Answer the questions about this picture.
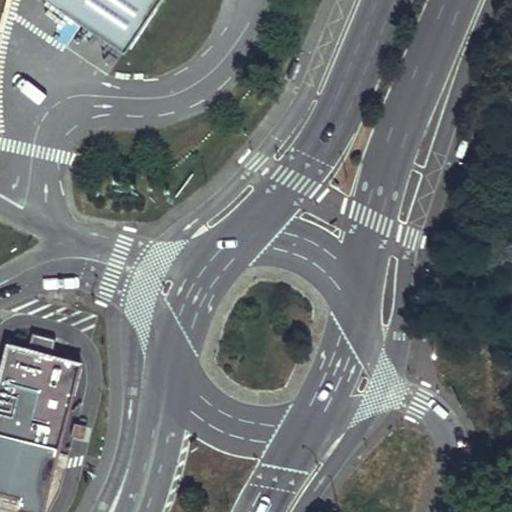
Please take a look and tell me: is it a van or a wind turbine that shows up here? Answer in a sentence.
The one in the frame is a van.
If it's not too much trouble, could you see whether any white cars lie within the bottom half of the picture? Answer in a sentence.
Yes, you'll find a white car within the bottom half of the picture.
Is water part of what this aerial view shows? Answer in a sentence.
No, the scene doesn't show any water.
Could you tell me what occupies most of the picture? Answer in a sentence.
What you mostly see from above here is paved ground.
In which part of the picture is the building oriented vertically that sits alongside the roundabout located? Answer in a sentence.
You can find the building oriented vertically that sits alongside the roundabout in the bottom left area of the picture.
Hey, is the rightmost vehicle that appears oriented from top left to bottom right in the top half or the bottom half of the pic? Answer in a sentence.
It is in the bottom half that the rightmost vehicle that appears oriented from top left to bottom right appears.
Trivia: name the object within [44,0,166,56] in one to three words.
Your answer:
building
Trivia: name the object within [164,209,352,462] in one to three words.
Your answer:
roundabout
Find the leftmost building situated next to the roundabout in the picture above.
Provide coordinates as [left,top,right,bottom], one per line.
[0,335,82,512]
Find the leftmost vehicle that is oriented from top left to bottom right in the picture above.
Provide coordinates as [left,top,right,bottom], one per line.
[13,74,48,104]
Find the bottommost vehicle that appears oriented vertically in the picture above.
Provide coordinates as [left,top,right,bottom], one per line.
[454,425,466,446]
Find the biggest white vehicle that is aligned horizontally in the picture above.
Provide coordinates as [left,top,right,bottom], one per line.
[42,277,80,290]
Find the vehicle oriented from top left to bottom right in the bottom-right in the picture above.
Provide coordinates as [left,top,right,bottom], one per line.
[429,400,453,422]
